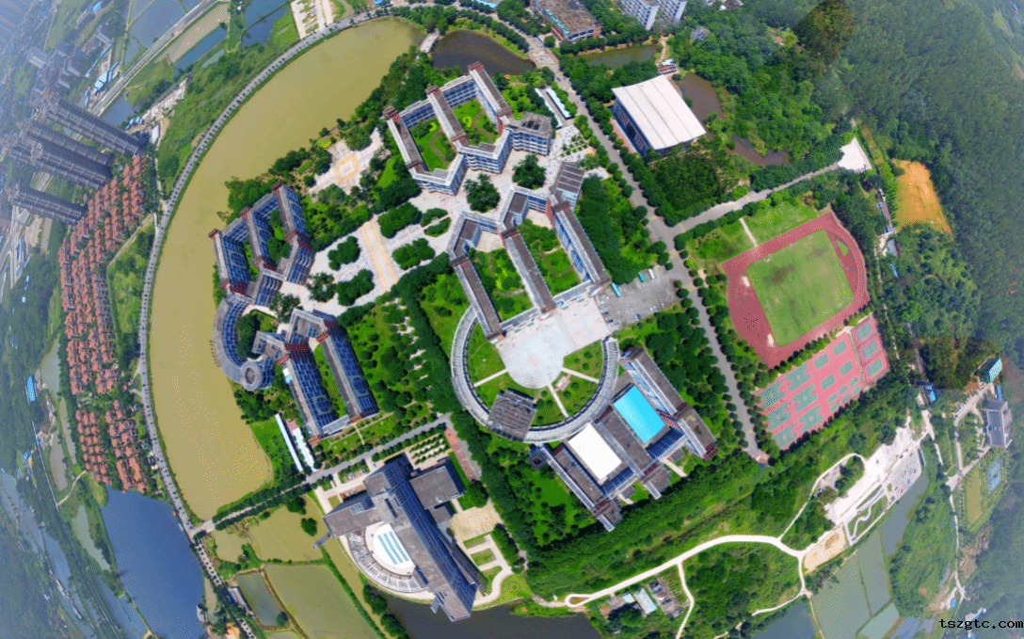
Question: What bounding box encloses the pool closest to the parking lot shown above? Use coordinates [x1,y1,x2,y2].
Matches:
[613,384,667,445]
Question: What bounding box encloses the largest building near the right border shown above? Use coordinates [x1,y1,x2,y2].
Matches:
[978,399,1015,446]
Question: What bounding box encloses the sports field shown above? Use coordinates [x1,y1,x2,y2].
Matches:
[746,230,856,347]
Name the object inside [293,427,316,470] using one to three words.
shed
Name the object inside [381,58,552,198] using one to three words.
building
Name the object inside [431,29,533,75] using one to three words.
pond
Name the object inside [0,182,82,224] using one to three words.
building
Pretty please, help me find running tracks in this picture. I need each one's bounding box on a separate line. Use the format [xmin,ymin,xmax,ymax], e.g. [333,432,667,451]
[721,209,870,364]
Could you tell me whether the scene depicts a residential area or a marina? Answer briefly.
residential area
